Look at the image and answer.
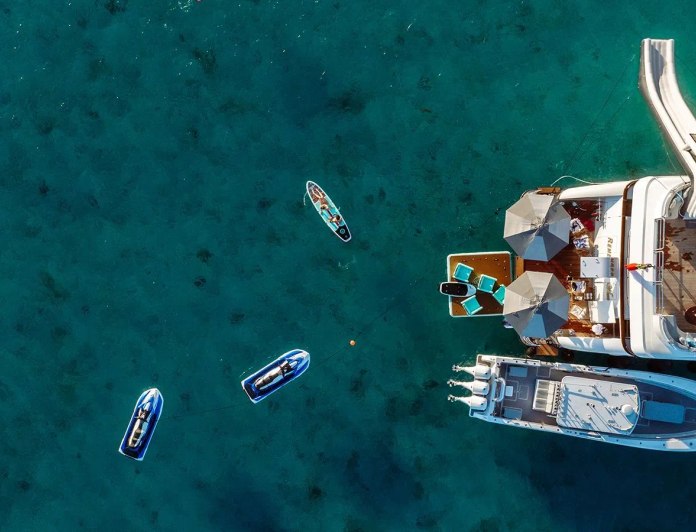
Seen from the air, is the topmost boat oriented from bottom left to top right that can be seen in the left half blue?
Yes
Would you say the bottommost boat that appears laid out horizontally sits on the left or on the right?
right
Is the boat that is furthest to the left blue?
Yes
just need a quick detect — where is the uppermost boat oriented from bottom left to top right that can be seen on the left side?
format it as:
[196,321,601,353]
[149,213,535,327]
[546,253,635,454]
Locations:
[243,349,310,403]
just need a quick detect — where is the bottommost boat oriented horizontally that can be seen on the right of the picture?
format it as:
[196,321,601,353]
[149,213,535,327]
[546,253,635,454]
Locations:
[447,356,696,448]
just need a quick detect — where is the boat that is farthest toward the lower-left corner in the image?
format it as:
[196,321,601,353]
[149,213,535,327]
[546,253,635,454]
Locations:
[120,389,164,461]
